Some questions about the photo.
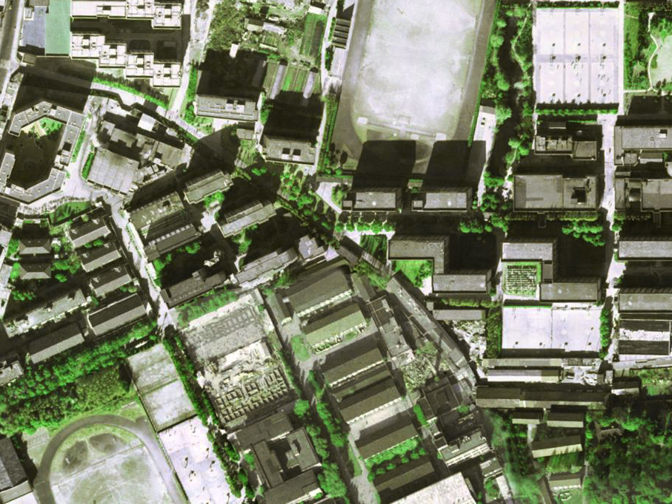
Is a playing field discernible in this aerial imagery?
Yes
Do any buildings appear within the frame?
Yes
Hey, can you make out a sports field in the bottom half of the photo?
Yes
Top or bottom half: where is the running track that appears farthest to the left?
bottom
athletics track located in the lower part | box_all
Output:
[38,414,184,504]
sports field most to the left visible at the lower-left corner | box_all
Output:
[58,437,177,504]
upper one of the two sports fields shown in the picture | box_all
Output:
[350,0,486,133]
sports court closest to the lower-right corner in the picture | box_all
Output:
[503,308,601,350]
